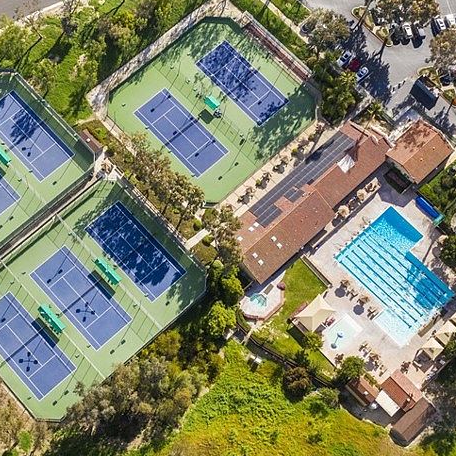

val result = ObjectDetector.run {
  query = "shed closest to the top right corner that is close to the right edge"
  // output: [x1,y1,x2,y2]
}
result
[406,79,442,114]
